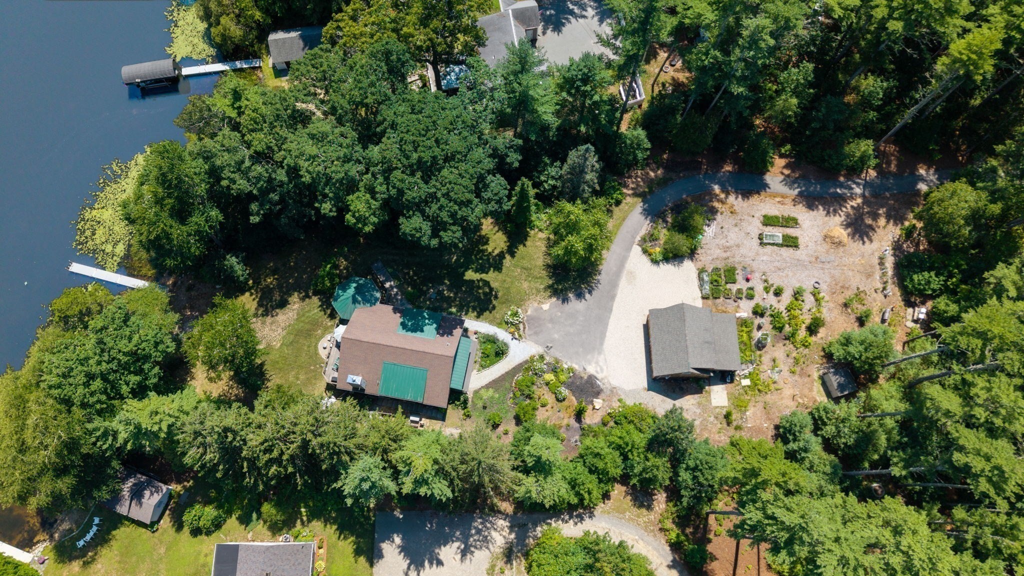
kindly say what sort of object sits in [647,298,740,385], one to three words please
building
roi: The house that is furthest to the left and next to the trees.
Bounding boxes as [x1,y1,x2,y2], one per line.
[104,468,175,523]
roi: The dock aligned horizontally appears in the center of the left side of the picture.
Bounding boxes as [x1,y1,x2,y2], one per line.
[60,261,171,295]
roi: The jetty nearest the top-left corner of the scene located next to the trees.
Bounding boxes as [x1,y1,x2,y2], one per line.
[181,58,261,74]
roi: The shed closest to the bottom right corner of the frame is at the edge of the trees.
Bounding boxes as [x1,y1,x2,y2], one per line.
[813,367,857,400]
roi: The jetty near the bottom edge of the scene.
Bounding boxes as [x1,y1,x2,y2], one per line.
[0,535,34,565]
